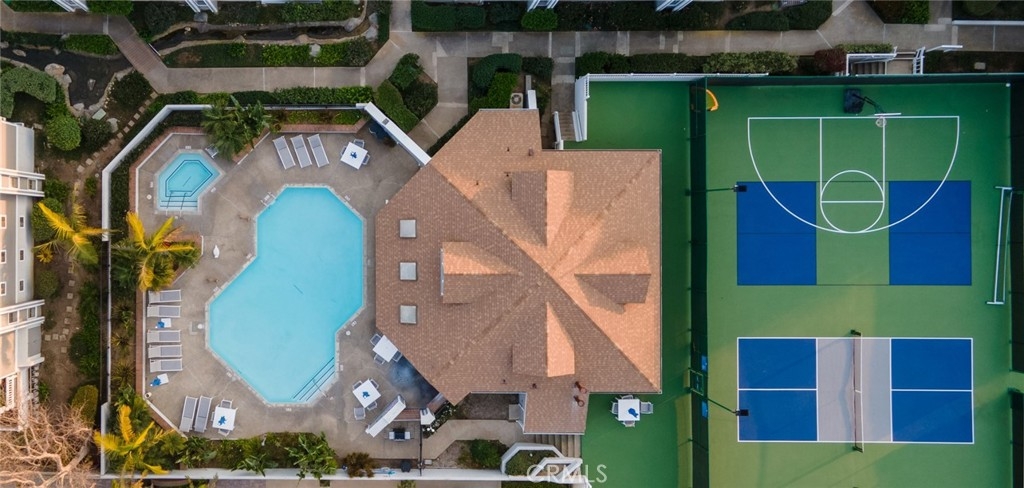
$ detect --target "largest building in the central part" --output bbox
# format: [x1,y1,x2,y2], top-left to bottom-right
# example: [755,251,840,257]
[376,108,662,436]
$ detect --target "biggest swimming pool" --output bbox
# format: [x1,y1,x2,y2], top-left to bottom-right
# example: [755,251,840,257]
[203,183,368,408]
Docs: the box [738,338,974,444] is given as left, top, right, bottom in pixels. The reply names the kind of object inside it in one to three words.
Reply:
sports court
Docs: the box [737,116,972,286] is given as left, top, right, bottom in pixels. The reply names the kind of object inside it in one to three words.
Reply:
basketball court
